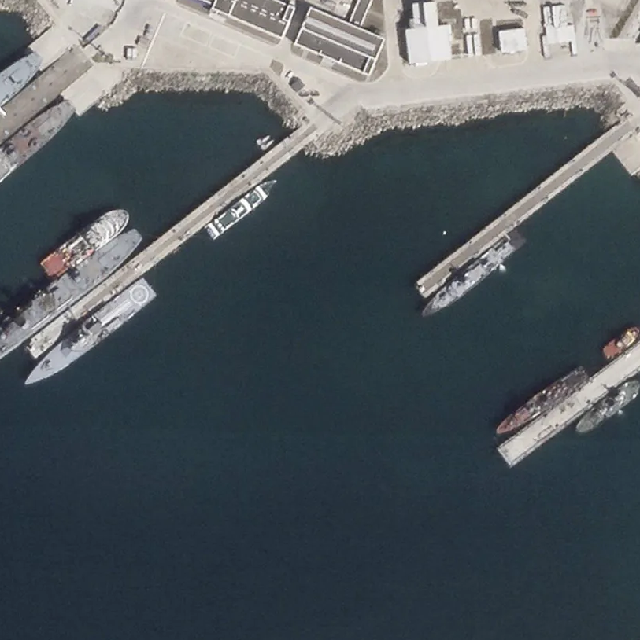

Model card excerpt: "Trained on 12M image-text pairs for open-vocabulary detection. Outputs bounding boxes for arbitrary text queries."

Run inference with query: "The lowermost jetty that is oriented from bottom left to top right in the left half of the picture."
[27,125,317,360]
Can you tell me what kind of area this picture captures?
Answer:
port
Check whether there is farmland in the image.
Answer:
No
